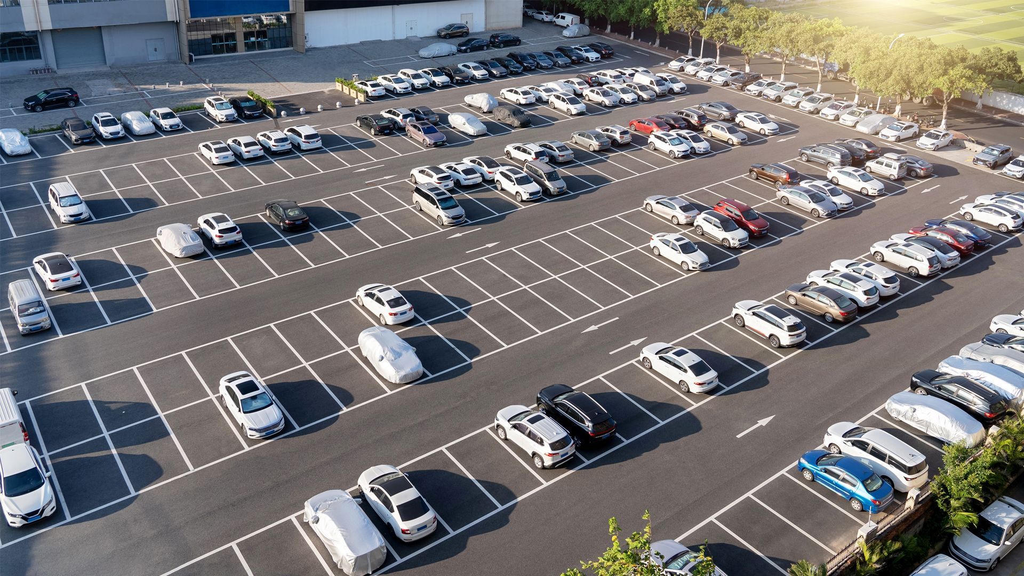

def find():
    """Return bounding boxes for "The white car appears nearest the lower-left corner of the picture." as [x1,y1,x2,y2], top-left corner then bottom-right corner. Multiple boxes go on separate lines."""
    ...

[0,443,57,527]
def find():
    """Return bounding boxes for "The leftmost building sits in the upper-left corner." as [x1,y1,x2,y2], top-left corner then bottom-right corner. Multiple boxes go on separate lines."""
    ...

[0,0,185,78]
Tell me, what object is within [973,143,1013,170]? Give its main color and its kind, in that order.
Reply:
gray car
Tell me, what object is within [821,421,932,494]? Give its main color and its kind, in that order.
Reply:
white car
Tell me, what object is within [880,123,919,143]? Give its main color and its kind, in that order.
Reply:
white car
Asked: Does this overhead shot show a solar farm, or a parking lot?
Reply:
parking lot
